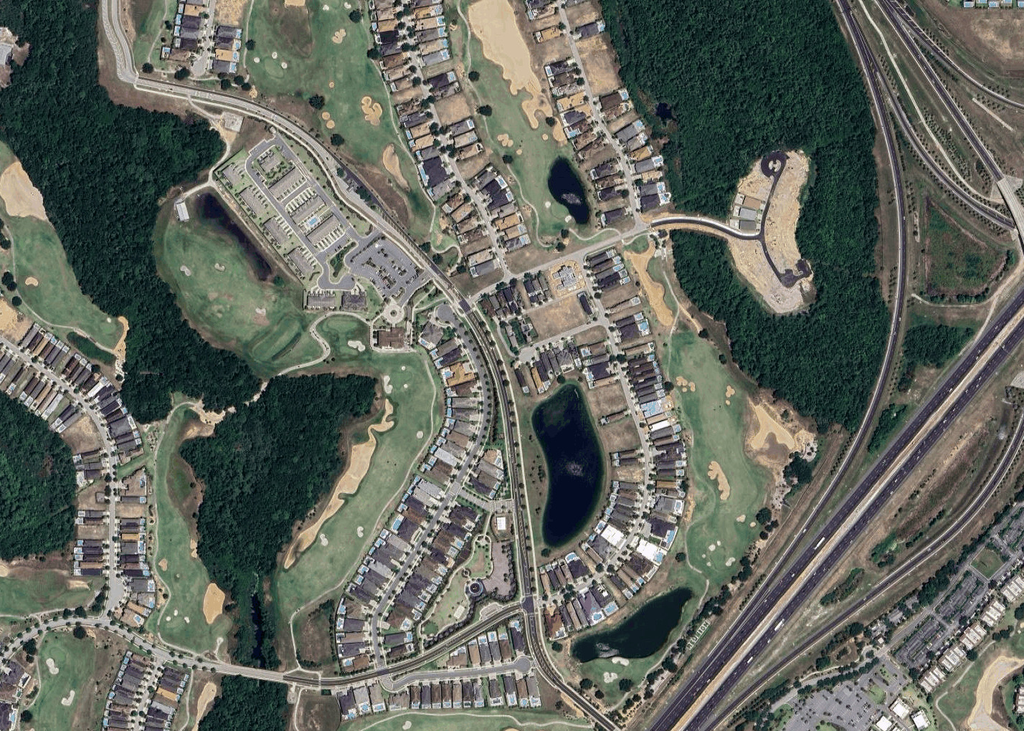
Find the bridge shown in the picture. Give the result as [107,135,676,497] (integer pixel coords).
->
[997,175,1024,256]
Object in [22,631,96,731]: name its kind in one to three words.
golf course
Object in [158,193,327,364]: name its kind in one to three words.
golf course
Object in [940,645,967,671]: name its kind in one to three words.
building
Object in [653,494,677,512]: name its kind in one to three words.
house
